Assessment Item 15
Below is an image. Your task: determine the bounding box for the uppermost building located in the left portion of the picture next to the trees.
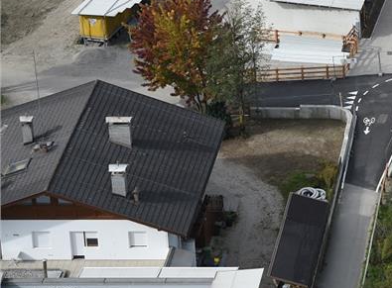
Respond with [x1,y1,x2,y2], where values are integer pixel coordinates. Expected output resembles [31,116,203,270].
[0,71,229,268]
